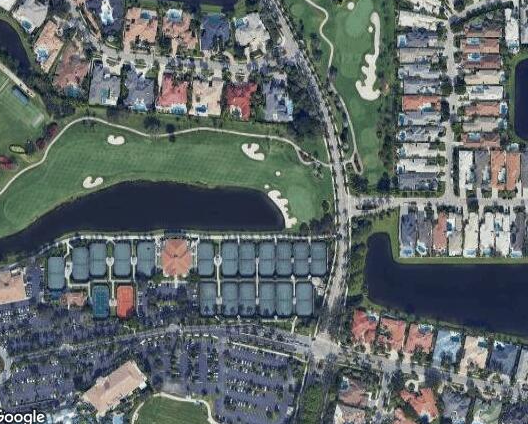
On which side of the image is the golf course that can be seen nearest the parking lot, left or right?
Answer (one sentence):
The golf course that can be seen nearest the parking lot appears in the left half of the scene.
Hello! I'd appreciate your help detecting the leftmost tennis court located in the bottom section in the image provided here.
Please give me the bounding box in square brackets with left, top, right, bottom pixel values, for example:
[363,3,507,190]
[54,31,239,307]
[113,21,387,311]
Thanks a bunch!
[47,255,65,290]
